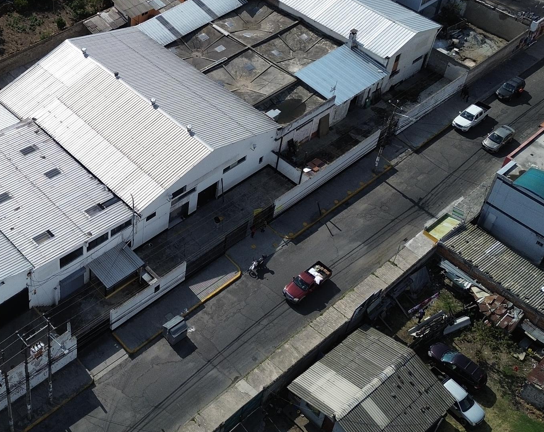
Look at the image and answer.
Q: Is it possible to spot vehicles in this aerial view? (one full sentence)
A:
Yes, there's a vehicle down there.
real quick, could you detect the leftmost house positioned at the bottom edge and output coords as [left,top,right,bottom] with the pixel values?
[287,325,455,432]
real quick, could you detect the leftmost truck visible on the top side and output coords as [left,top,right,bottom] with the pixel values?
[451,102,495,130]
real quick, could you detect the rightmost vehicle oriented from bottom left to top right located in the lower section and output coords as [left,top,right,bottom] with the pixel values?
[283,261,335,304]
